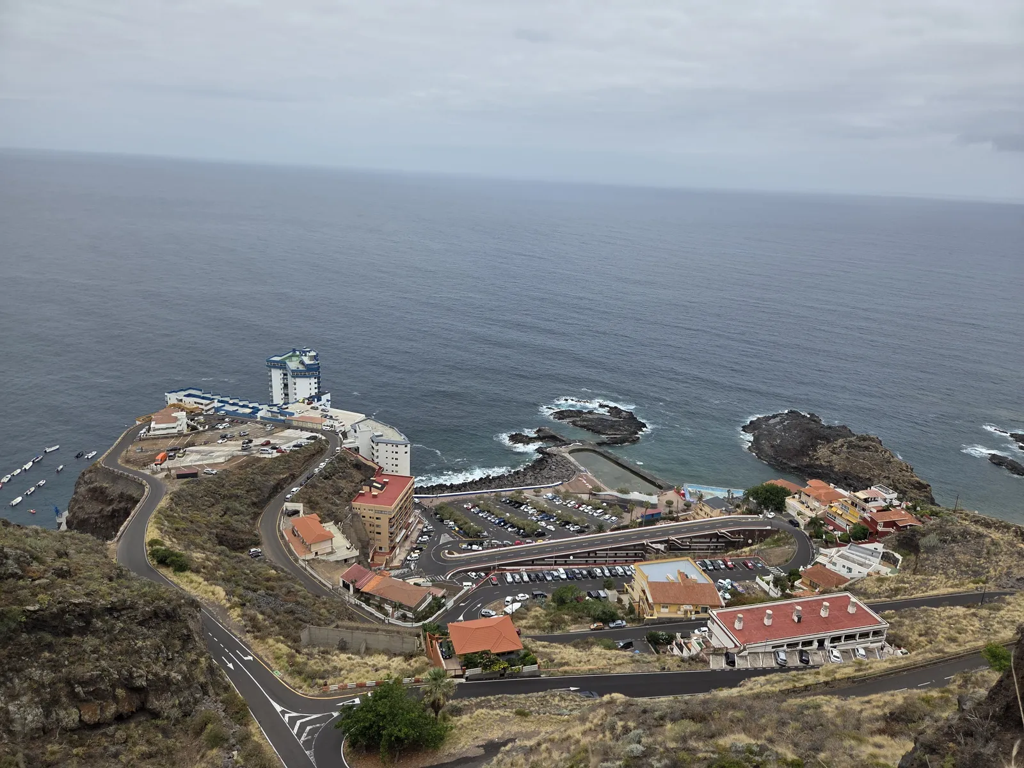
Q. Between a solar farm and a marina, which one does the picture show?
marina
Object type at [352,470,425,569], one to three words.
building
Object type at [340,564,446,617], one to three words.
house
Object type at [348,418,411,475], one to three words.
building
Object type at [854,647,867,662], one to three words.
vehicle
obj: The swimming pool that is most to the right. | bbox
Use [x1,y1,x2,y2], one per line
[683,481,746,501]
